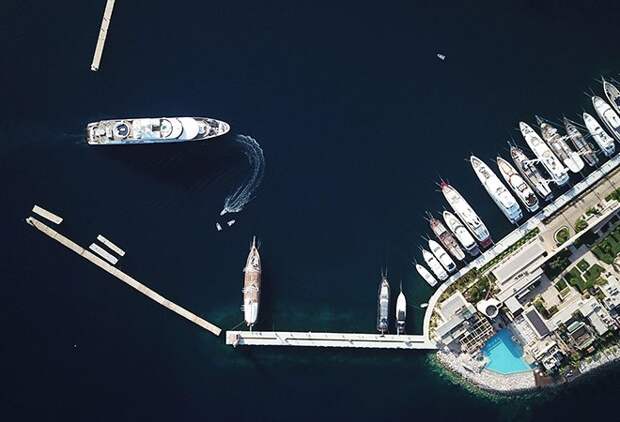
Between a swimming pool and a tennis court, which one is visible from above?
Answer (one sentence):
The one in the frame is a swimming pool.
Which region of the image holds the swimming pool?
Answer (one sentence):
The swimming pool is located in the bottom right region of the scene.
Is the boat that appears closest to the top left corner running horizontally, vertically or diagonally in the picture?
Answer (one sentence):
The boat that appears closest to the top left corner is laid out horizontally.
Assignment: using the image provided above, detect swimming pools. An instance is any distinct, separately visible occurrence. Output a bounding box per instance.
[478,324,535,376]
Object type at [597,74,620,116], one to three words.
boat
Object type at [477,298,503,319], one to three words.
building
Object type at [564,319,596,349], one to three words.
house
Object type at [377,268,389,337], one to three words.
boat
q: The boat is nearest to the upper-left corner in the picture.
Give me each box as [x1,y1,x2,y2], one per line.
[85,117,230,143]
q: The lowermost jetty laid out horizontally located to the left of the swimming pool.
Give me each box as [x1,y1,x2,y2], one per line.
[226,331,438,351]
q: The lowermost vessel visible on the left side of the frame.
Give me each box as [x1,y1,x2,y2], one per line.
[227,232,261,337]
